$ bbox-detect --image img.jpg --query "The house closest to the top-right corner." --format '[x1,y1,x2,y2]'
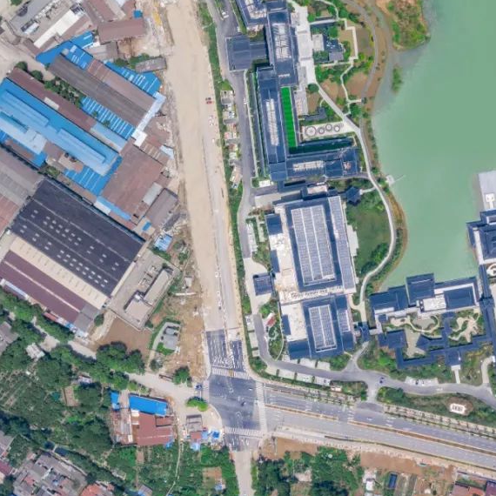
[312,32,343,61]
